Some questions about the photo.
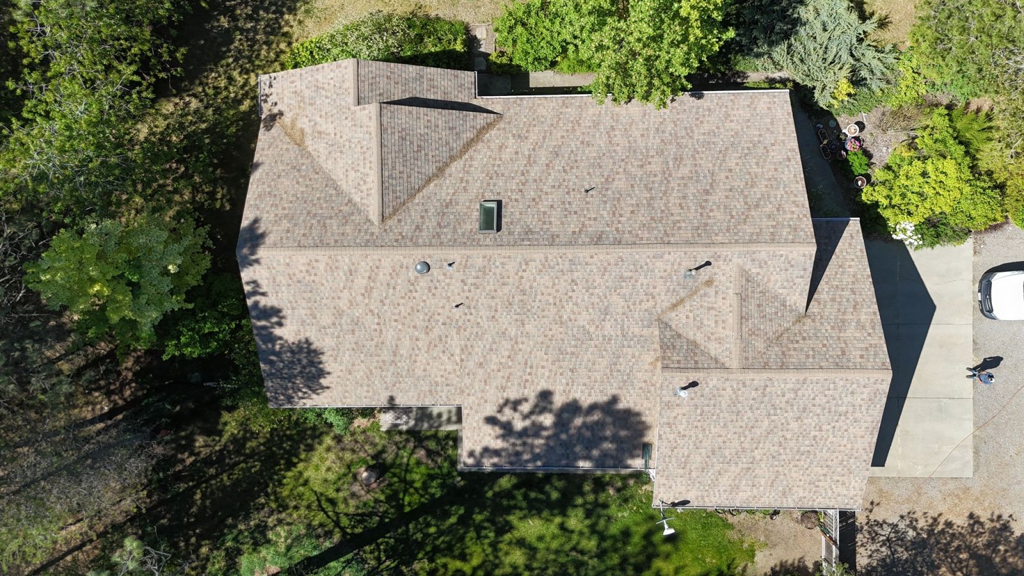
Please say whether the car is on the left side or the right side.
right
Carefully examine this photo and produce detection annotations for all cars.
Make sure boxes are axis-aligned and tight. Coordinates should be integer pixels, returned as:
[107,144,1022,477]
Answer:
[978,270,1024,321]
